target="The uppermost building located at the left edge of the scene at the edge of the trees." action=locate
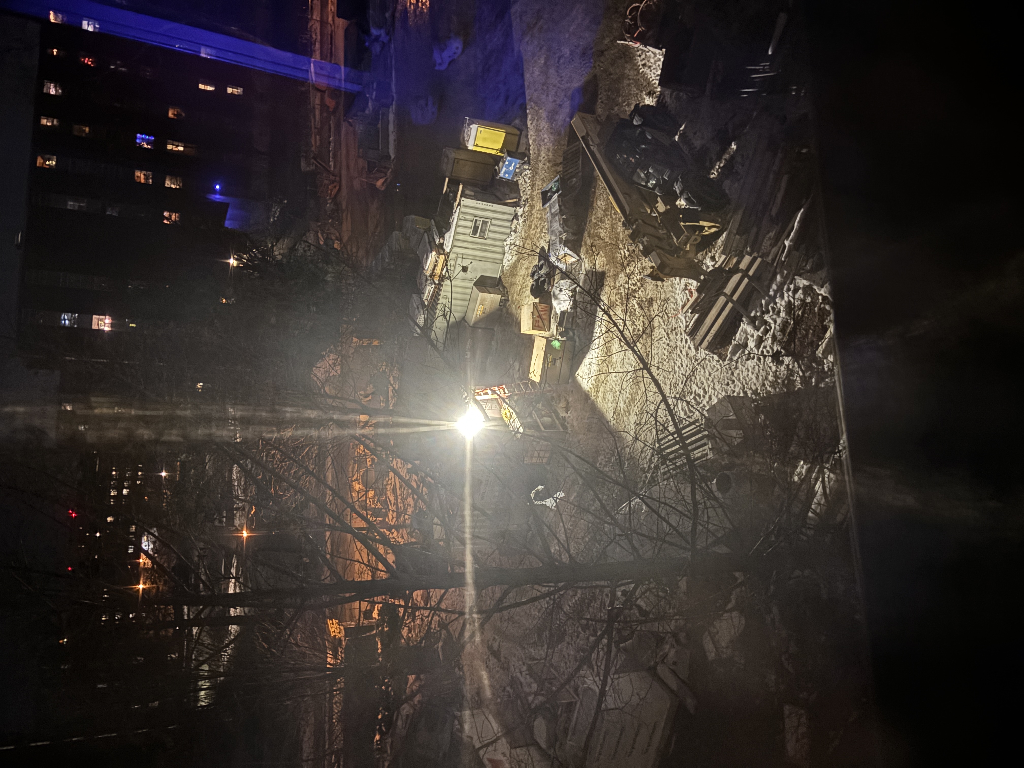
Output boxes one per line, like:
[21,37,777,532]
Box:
[15,0,265,388]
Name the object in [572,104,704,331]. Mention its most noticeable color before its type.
black work vehicle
